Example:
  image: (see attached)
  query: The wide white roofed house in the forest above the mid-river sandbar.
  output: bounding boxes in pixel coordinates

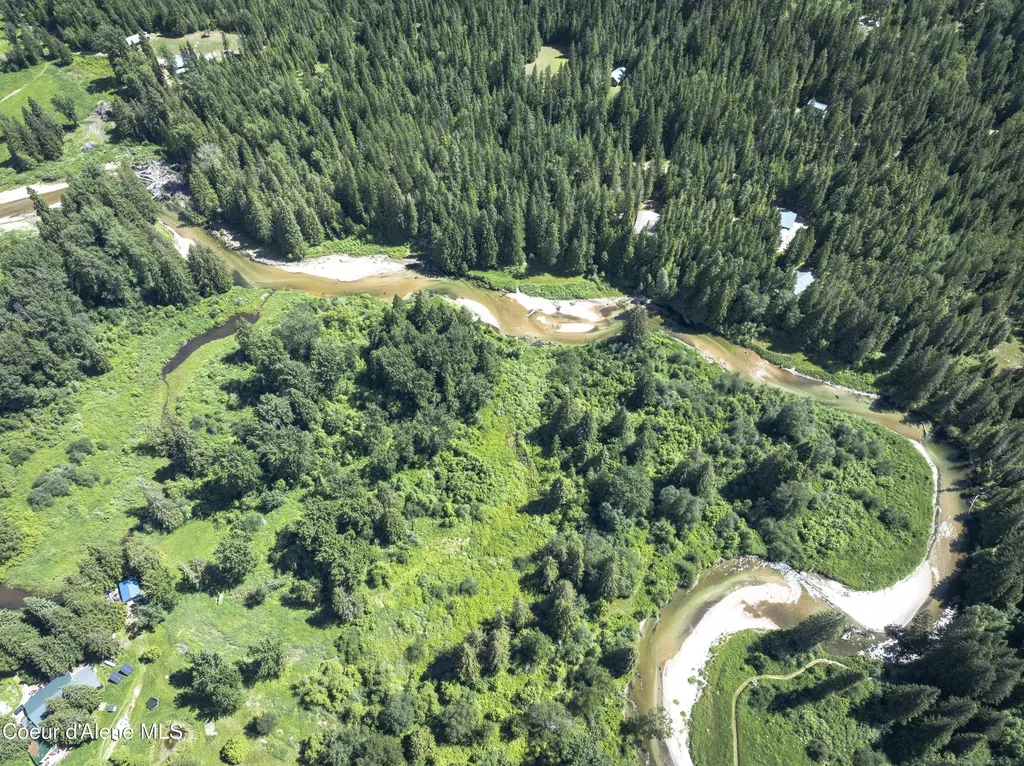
[634,212,659,240]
